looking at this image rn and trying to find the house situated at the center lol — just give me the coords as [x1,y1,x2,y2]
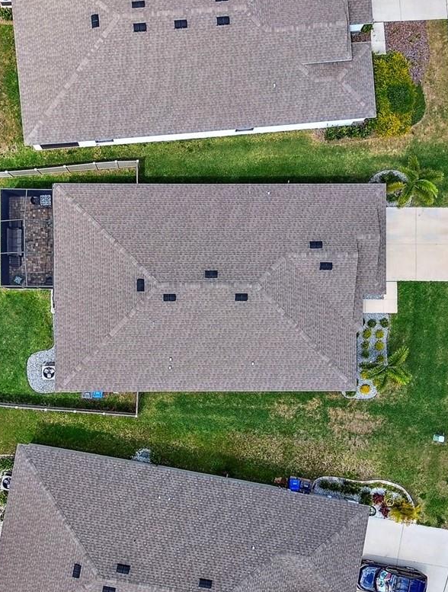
[51,182,387,392]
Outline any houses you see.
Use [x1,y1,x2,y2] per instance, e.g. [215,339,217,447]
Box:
[11,0,378,149]
[51,182,387,392]
[0,442,372,592]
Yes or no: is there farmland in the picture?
No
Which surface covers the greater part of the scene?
buildings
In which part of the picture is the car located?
bottom right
